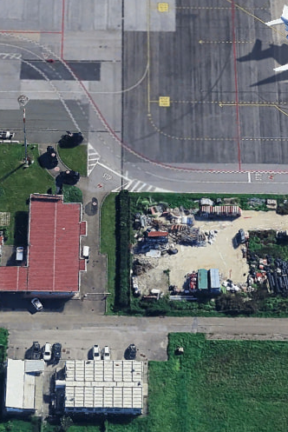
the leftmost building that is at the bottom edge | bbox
[4,359,44,417]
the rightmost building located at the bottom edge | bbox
[65,360,144,415]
